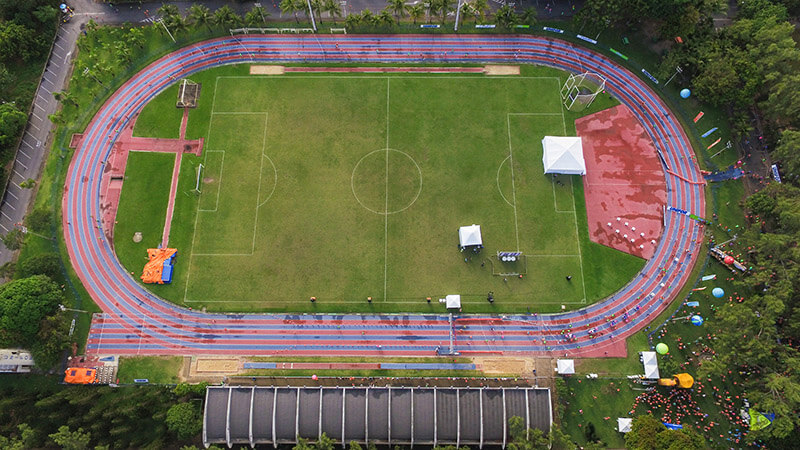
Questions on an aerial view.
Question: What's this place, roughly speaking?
sports ground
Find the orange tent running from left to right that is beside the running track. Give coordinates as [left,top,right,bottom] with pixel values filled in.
[64,366,102,383]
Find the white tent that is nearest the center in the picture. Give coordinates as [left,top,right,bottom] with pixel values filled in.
[458,226,481,248]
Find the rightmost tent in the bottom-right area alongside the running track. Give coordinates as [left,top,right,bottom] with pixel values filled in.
[638,352,659,378]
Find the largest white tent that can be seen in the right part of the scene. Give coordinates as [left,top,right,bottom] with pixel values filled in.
[541,136,585,178]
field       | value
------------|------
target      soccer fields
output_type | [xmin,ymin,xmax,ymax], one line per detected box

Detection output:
[177,73,593,308]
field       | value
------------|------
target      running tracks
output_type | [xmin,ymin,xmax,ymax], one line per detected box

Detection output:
[61,34,706,357]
